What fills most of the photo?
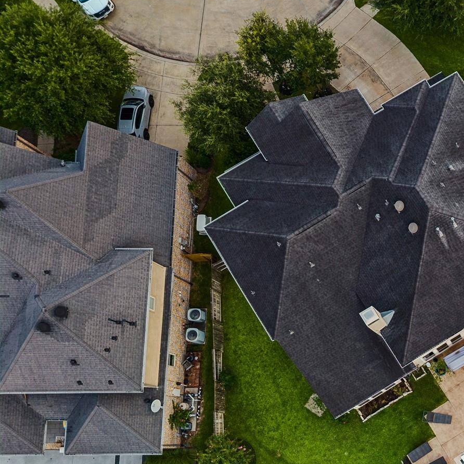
buildings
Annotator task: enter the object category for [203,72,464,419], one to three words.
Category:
house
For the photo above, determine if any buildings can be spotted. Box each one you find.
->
[203,72,464,419]
[0,121,197,457]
